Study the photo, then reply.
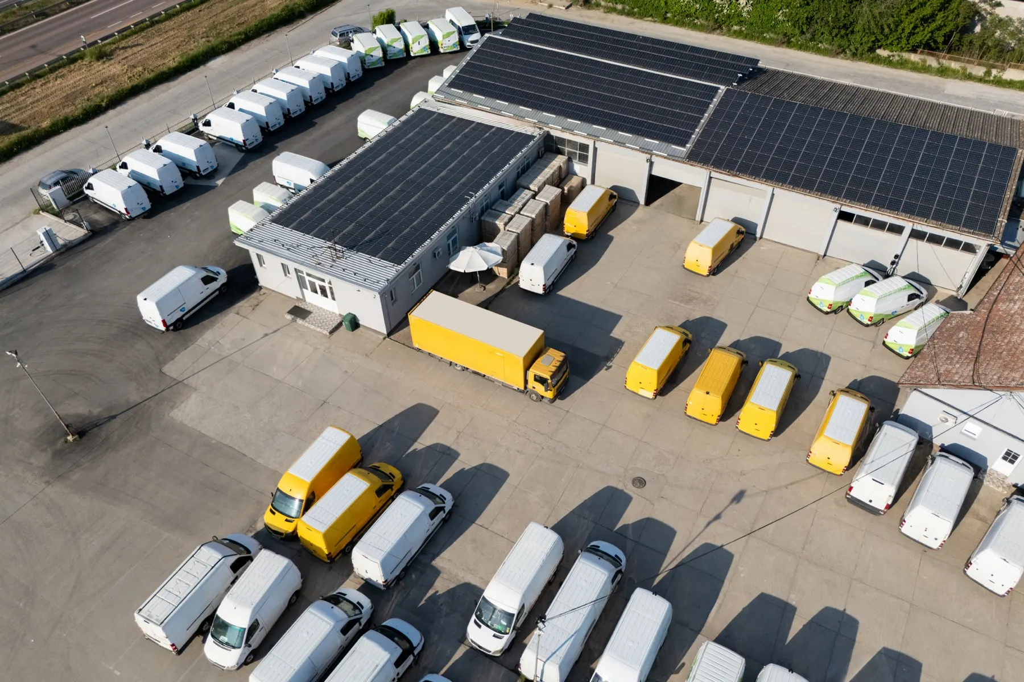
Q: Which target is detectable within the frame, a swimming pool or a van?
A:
van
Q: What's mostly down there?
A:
paved ground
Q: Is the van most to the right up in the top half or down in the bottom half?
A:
bottom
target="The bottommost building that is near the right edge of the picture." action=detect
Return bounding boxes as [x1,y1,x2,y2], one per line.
[897,241,1024,498]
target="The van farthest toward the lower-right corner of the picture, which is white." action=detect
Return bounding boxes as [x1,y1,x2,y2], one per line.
[962,494,1024,600]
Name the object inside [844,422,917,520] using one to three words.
van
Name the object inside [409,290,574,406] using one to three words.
truck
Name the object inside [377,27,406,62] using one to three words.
van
